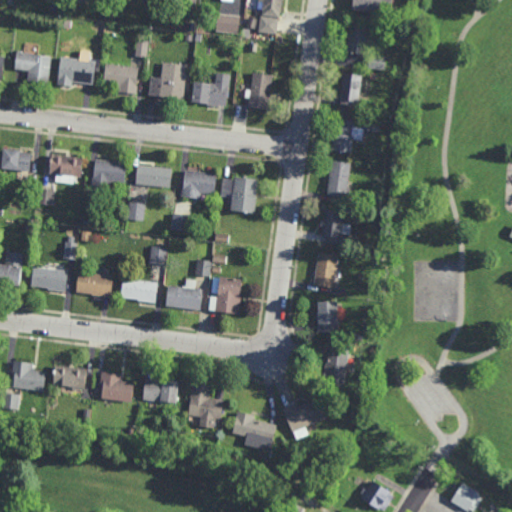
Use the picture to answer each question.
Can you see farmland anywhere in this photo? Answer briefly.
No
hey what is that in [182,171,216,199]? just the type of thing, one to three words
house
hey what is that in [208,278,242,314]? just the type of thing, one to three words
house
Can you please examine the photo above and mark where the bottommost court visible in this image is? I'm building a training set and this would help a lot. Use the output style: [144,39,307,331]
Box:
[414,262,459,322]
